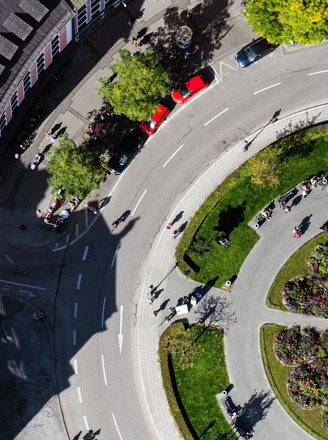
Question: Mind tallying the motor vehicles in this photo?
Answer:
four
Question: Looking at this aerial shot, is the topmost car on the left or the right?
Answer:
right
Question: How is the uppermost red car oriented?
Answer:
at an angle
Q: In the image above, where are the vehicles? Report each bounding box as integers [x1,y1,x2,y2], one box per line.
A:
[107,134,143,174]
[236,33,278,67]
[174,73,209,104]
[138,104,172,136]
